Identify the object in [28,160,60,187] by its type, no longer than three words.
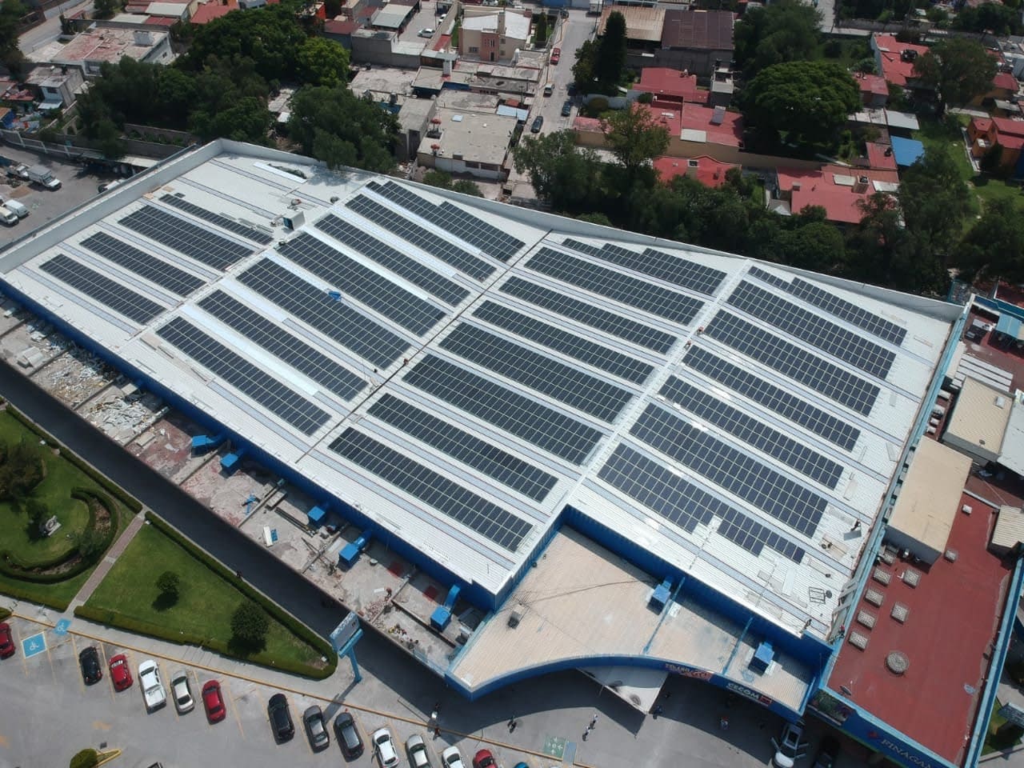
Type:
truck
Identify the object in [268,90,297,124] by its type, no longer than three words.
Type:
house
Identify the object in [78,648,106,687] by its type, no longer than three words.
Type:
car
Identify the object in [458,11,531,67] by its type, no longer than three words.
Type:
house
